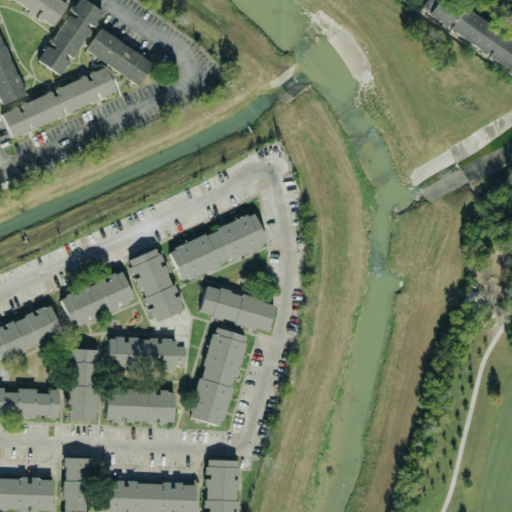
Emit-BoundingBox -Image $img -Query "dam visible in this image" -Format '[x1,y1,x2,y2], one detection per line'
[270,65,312,103]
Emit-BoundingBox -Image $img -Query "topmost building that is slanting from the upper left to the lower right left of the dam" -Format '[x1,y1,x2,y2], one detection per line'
[88,29,152,84]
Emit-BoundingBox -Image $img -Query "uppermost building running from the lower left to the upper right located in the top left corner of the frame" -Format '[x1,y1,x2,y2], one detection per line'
[38,0,104,75]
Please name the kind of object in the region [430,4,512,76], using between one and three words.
house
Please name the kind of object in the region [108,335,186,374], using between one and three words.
building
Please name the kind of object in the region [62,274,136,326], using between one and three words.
building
